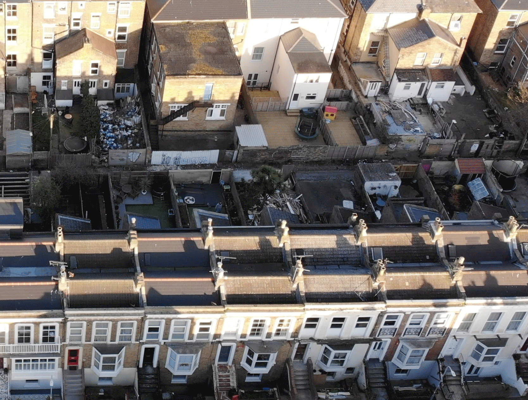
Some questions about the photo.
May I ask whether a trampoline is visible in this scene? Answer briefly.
Yes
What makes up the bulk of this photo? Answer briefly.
buildings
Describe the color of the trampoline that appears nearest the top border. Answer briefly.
black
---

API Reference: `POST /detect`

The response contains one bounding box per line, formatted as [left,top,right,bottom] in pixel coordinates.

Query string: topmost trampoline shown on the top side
[292,108,324,140]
